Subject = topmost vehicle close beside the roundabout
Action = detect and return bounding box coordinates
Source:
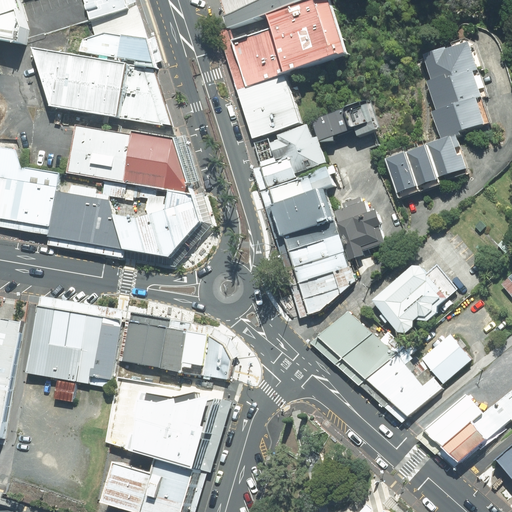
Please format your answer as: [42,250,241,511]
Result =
[197,265,214,277]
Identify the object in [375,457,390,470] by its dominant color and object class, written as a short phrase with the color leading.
white vehicle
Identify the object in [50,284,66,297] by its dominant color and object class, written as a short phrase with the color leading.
gray vehicle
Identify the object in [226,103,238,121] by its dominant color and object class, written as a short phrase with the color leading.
white vehicle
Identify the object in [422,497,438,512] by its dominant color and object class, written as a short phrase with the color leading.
white car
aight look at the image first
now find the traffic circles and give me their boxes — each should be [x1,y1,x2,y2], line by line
[213,273,244,304]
